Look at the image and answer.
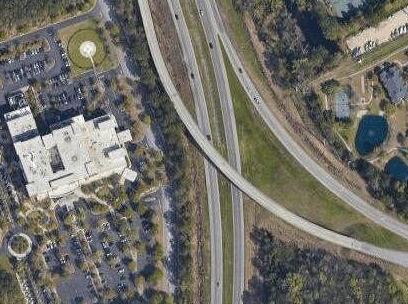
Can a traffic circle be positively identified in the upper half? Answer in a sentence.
No, looking in the upper half, there is no traffic circle.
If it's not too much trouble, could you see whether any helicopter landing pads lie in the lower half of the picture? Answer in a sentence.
No, looking in the lower half of the picture, there is no helicopter landing pad.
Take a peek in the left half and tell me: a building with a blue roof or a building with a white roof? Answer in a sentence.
There is a building with a white roof in the left half.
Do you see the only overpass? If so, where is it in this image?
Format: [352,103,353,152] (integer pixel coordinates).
[138,0,398,262]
